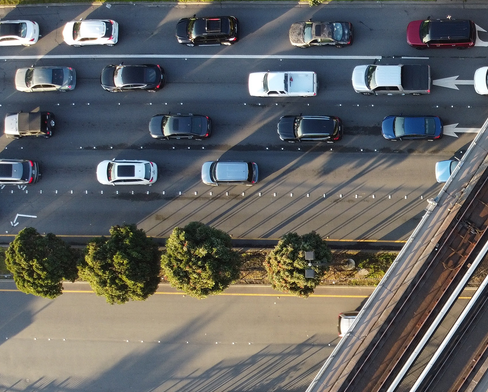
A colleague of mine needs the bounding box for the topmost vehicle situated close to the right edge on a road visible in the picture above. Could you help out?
[407,17,477,49]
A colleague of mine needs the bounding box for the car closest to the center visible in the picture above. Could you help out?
[202,157,260,187]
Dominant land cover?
paved ground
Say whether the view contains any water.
No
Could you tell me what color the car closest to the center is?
blue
